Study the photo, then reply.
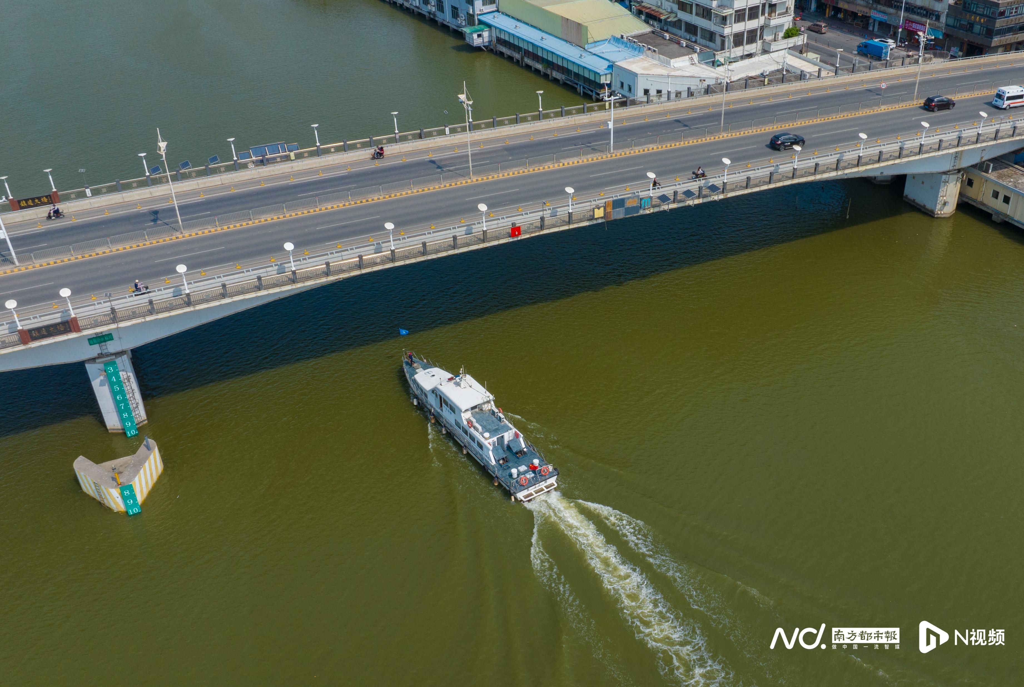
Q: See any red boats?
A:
No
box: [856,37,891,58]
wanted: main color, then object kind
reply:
blue truck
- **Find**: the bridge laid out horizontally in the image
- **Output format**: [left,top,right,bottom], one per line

[0,50,1024,433]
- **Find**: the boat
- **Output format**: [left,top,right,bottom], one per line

[397,327,561,507]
